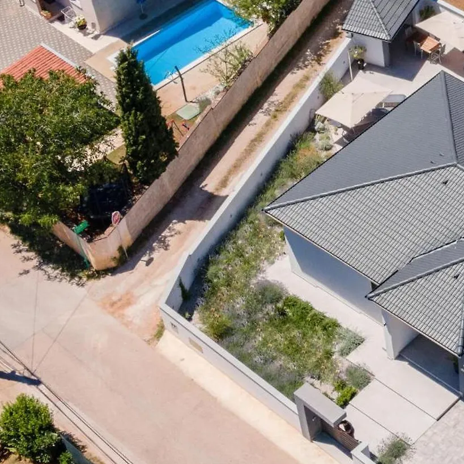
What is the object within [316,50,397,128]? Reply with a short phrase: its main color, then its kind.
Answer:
white umbrella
